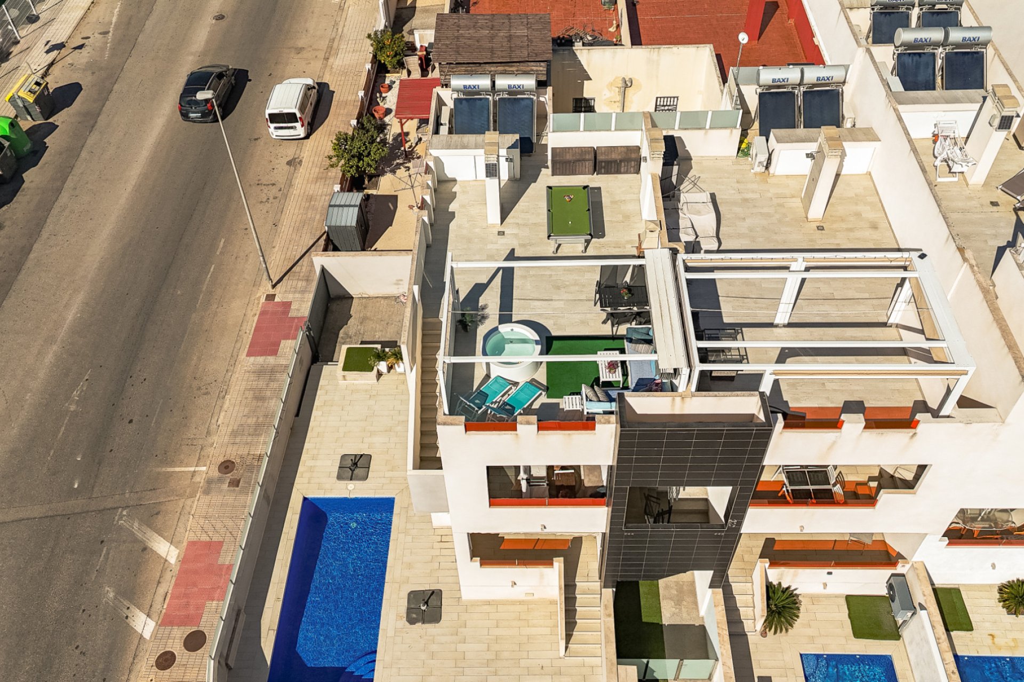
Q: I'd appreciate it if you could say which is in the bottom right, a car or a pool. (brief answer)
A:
pool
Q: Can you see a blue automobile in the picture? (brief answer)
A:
No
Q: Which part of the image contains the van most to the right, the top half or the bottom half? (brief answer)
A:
top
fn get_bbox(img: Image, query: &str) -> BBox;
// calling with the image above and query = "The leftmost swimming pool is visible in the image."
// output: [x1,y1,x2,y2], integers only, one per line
[267,497,395,682]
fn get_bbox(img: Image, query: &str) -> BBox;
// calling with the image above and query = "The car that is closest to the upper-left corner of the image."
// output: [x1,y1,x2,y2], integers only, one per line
[176,63,240,121]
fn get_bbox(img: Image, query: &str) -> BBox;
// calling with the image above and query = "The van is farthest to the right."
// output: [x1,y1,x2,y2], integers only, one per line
[267,74,326,139]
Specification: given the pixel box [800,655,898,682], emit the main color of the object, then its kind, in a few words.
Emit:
blue swimming pool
